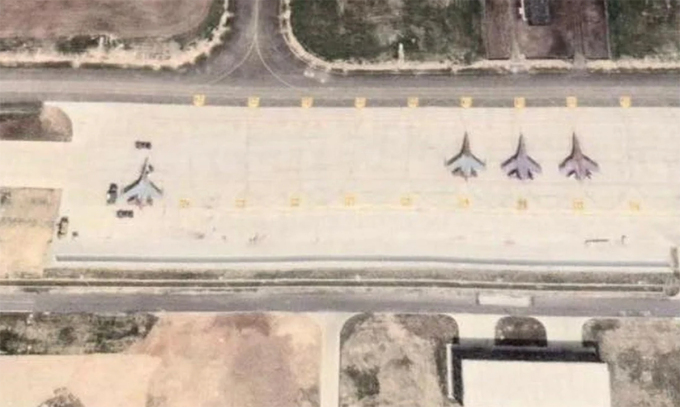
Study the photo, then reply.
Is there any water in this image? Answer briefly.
No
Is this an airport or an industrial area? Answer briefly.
airport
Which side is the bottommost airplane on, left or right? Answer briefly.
left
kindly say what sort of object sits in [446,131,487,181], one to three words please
airplane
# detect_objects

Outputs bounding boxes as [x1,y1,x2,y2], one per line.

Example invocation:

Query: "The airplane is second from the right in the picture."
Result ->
[501,131,542,181]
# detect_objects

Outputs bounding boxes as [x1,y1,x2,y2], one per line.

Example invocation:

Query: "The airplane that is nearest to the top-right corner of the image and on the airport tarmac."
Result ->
[558,132,598,181]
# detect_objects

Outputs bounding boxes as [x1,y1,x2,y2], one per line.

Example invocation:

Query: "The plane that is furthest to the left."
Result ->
[122,158,162,208]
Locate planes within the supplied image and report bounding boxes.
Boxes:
[501,131,542,181]
[122,158,162,208]
[558,132,598,181]
[446,131,487,181]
